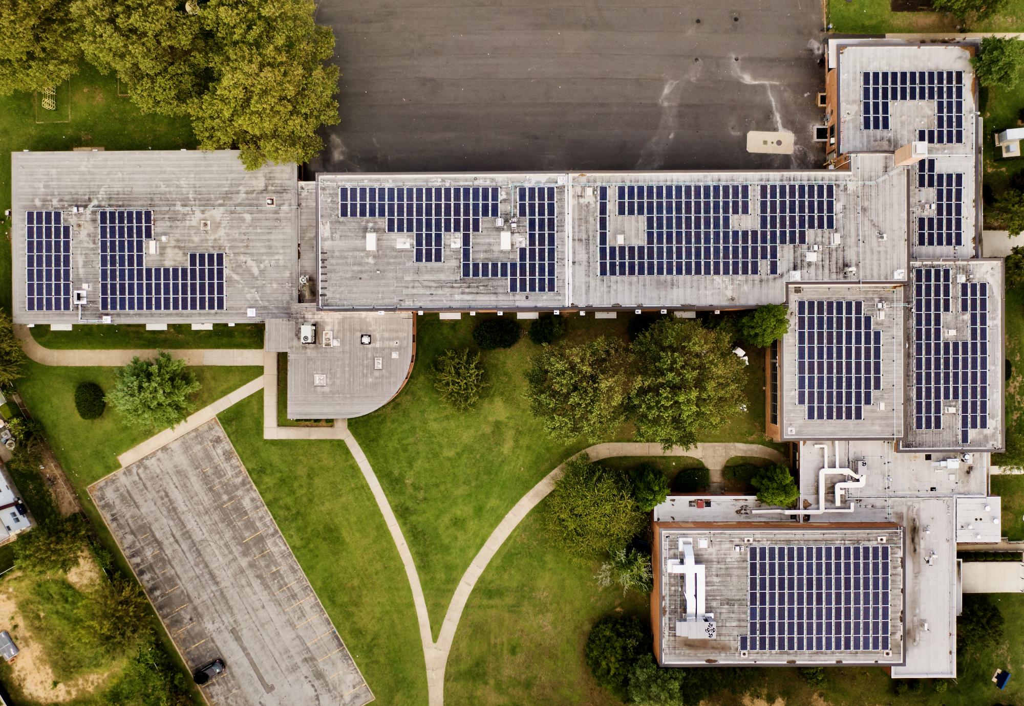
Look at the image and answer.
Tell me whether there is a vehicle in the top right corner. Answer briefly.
No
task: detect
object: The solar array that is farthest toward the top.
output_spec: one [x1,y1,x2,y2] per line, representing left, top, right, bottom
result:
[860,71,966,145]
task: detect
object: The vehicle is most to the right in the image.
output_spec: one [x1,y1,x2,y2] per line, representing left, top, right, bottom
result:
[193,657,227,684]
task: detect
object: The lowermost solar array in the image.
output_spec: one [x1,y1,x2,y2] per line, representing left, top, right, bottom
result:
[737,546,892,652]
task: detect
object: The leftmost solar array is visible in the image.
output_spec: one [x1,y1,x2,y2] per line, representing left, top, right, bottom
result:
[24,211,74,311]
